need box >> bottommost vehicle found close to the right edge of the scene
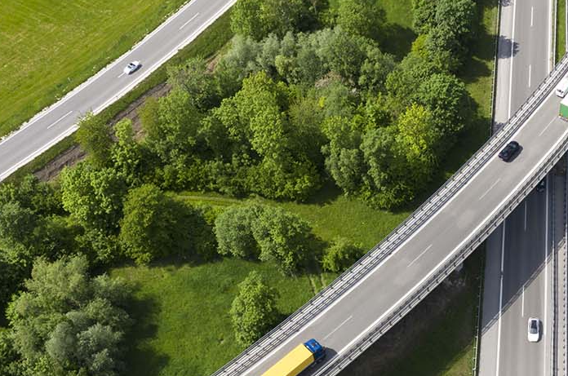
[527,316,541,343]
